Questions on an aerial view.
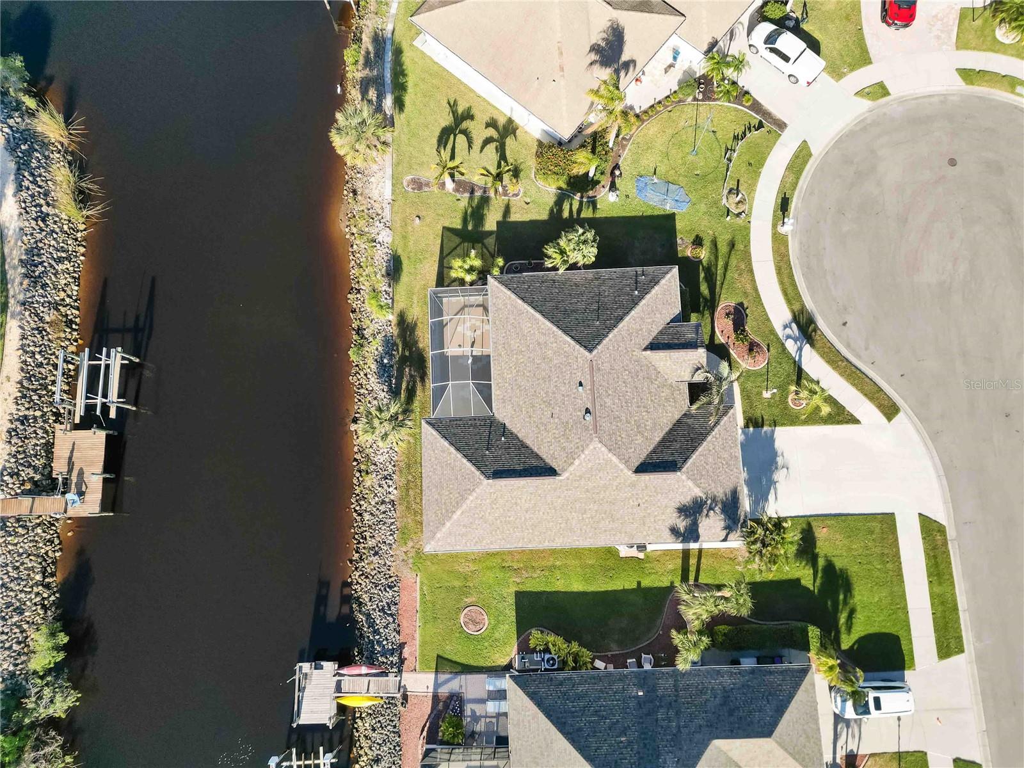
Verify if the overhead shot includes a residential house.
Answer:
Yes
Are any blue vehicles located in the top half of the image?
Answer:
No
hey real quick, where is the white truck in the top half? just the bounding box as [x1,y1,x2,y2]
[745,19,832,88]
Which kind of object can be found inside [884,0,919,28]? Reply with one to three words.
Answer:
car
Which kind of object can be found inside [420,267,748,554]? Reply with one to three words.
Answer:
house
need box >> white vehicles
[745,19,832,88]
[833,681,918,724]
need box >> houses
[420,267,748,554]
[420,661,824,768]
[392,0,761,147]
